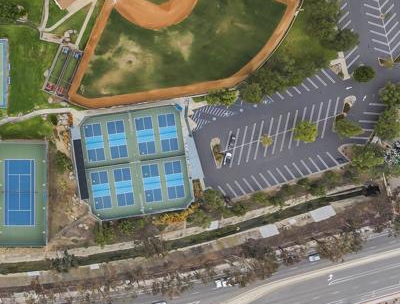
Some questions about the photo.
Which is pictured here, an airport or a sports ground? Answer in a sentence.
This image shows a sports ground.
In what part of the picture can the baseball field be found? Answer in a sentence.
Look in the top portion of the view to spot the baseball field.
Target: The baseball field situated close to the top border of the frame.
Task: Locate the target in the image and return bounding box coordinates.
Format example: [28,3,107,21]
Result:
[69,0,300,107]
